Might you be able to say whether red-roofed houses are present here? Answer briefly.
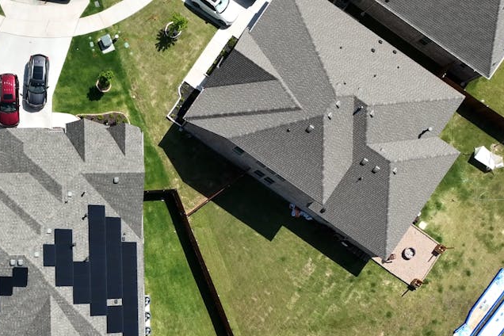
No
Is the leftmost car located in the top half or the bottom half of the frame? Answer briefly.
top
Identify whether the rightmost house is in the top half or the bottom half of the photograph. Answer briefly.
top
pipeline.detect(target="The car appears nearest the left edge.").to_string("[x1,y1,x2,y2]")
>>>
[0,72,23,129]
